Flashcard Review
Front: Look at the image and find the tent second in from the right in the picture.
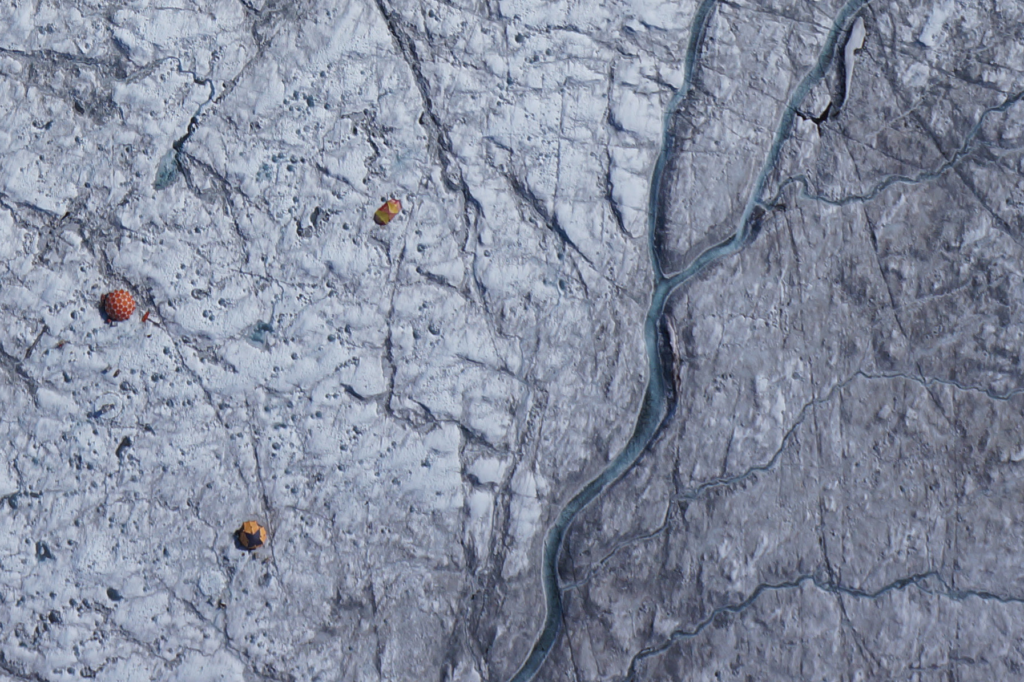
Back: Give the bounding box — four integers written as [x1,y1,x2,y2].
[238,520,266,549]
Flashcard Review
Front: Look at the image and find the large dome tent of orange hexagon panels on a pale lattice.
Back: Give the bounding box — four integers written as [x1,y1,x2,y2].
[103,287,137,322]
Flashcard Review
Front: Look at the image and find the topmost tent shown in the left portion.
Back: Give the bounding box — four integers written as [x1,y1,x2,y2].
[374,199,402,225]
